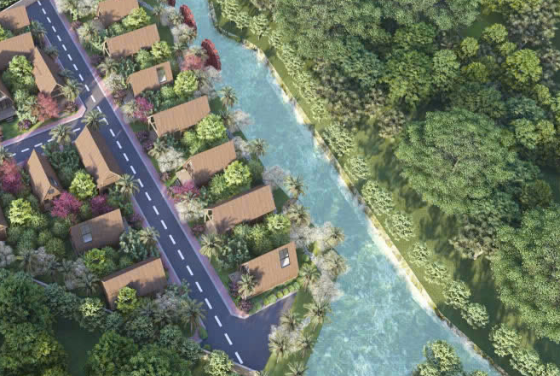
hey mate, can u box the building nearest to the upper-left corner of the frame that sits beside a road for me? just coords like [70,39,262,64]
[0,5,37,40]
